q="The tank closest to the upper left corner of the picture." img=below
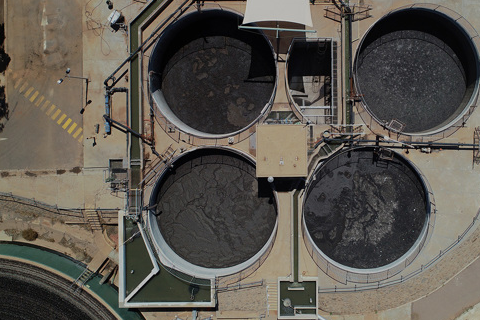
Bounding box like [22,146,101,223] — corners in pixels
[144,5,277,137]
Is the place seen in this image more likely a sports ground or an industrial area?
industrial area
